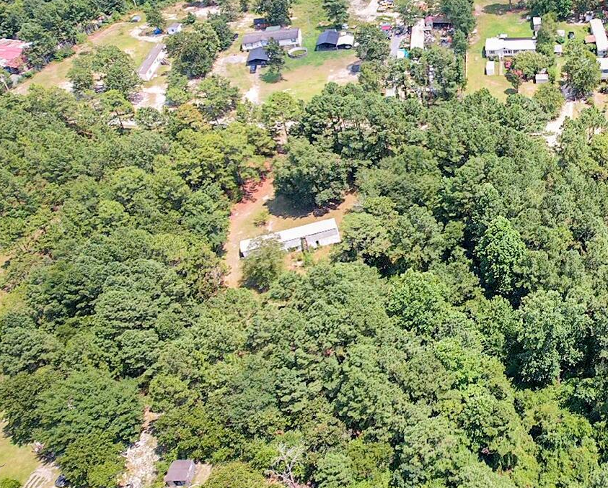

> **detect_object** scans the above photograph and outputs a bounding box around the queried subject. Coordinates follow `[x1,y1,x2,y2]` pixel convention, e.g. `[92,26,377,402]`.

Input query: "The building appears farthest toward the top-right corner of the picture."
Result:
[581,18,608,57]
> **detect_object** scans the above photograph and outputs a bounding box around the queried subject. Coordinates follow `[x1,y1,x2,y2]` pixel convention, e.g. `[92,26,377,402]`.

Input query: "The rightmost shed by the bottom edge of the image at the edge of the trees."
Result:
[159,450,195,488]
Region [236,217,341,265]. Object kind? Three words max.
house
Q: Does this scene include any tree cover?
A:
Yes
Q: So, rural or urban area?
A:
rural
